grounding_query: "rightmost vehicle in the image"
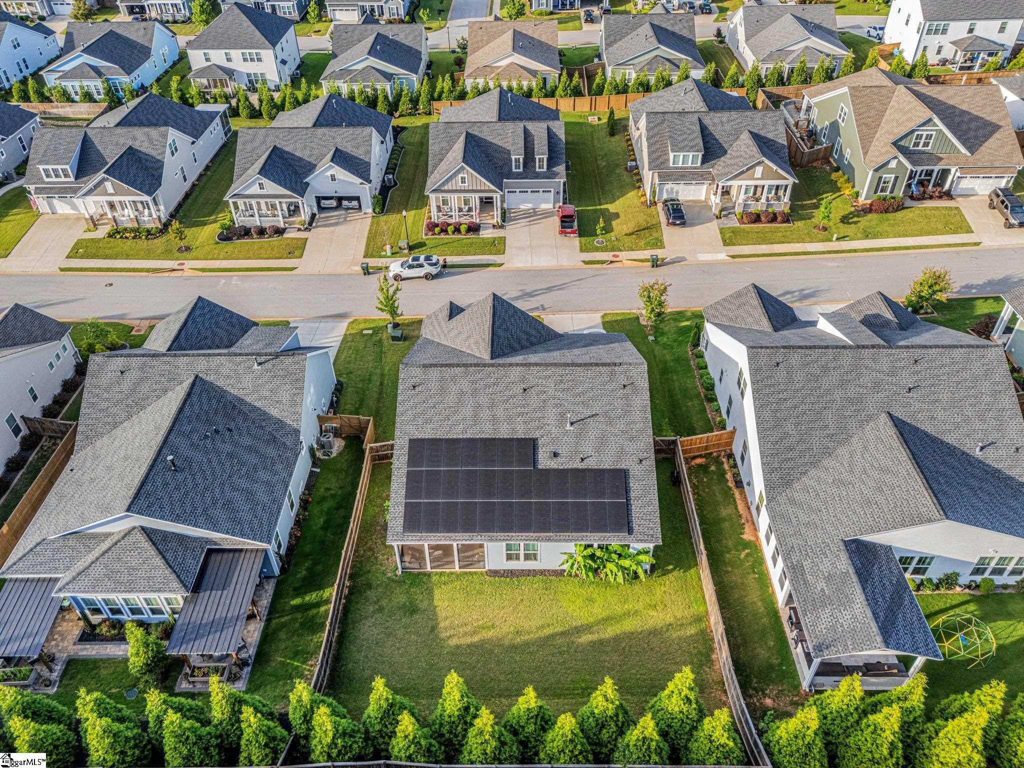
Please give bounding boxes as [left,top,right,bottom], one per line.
[987,183,1024,216]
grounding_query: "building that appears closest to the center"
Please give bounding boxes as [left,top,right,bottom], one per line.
[387,291,662,577]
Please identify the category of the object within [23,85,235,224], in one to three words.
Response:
house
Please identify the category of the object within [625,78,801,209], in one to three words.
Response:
house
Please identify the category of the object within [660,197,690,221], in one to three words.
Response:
car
